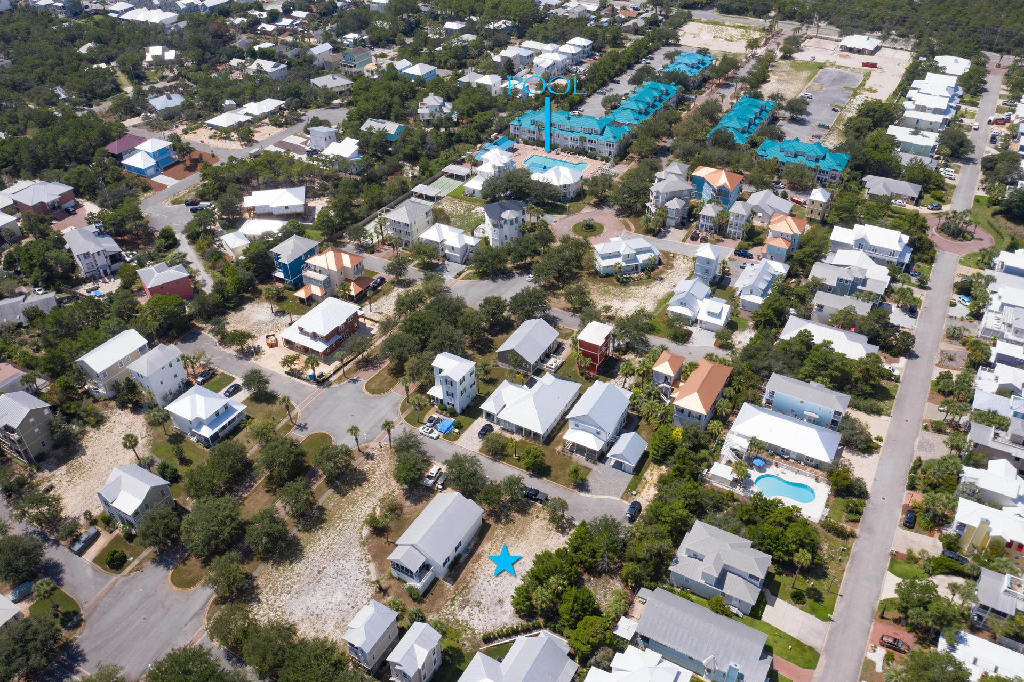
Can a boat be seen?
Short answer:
Yes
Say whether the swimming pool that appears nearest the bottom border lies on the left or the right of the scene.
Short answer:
right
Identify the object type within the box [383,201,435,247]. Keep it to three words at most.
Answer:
house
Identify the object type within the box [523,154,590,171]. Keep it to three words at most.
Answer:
swimming pool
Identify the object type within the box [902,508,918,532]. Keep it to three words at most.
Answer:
car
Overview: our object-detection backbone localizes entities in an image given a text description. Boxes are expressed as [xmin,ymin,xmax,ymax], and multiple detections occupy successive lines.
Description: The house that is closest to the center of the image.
[495,320,566,375]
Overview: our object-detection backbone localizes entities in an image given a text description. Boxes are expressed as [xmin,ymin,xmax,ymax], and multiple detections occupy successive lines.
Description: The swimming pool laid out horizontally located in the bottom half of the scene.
[754,473,818,504]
